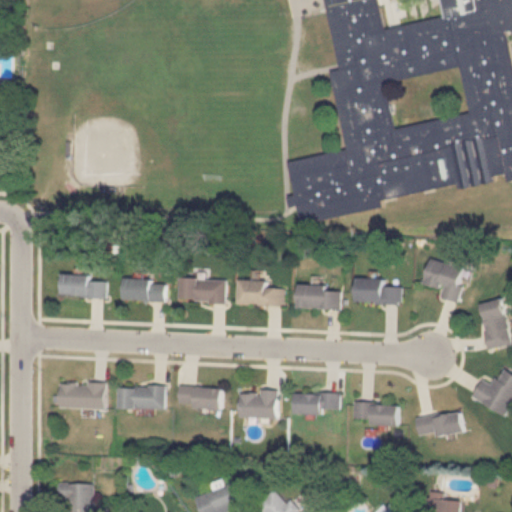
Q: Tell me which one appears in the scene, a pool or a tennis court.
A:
pool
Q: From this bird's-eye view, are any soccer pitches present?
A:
Yes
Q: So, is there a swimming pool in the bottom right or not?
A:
Yes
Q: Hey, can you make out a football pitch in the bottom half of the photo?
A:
No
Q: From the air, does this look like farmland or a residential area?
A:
residential area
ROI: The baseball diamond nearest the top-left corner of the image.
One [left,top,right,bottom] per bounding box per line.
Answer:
[75,40,180,187]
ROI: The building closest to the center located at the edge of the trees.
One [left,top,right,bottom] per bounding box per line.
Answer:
[234,271,288,307]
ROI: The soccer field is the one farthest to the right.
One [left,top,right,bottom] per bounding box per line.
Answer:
[196,88,254,184]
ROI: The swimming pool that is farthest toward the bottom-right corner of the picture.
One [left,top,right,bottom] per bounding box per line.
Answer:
[436,474,480,502]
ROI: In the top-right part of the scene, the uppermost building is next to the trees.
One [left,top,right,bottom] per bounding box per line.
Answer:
[287,0,512,219]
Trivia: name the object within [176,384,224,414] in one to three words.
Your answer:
house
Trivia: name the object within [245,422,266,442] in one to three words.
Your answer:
swimming pool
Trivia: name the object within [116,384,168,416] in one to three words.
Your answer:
house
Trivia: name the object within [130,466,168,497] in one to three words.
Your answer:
swimming pool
